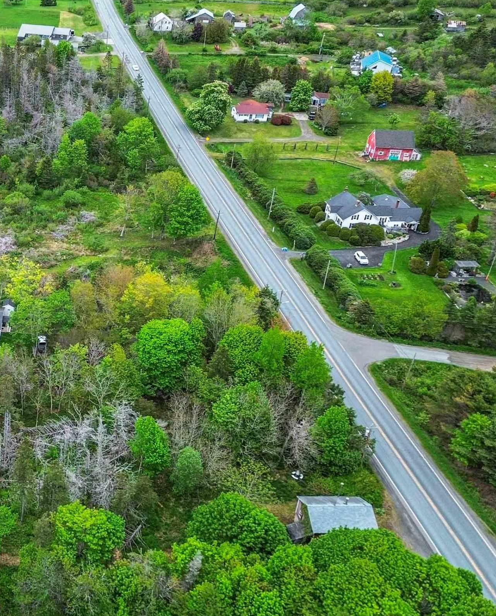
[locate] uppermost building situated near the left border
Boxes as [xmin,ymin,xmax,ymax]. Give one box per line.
[16,22,79,47]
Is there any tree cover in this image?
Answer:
Yes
